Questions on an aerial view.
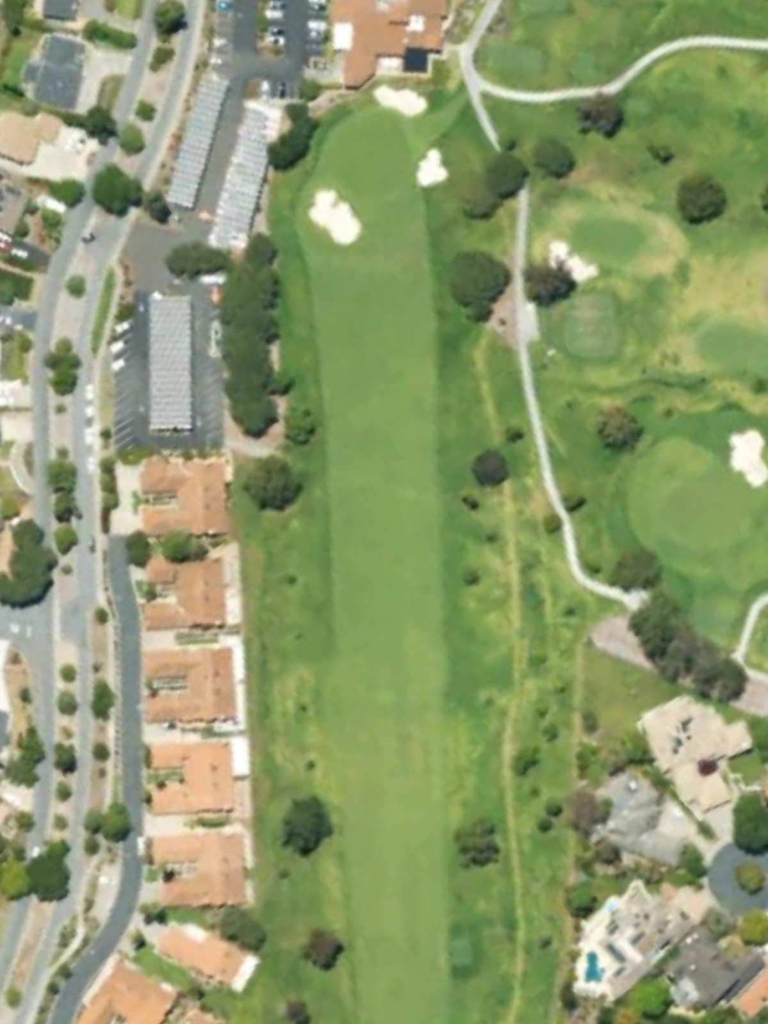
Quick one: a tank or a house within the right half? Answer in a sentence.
What appears within the right half is a house.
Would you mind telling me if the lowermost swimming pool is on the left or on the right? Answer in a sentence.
The lowermost swimming pool sits on the right side.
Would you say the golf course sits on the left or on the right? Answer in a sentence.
It is on the right.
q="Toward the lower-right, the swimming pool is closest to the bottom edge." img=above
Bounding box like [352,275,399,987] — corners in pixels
[584,950,605,982]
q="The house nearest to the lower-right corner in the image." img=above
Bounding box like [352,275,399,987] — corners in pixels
[735,974,768,1018]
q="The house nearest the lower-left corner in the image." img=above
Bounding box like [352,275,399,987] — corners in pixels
[77,954,177,1024]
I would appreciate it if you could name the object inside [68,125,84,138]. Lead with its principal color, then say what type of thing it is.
white vehicle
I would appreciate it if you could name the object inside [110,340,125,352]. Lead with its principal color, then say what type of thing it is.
white vehicle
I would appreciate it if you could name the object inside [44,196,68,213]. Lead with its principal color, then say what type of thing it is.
white car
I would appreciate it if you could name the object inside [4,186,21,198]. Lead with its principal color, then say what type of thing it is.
gray vehicle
